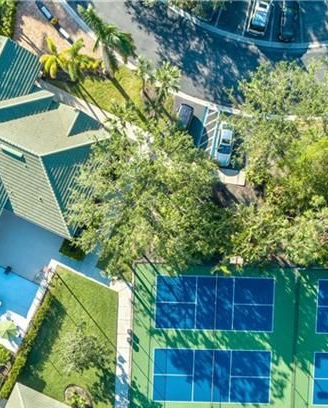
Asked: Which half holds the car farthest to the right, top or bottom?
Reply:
top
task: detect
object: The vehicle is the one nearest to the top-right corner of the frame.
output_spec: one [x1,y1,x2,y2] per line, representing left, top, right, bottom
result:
[277,0,299,44]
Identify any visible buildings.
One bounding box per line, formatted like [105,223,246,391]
[0,34,111,239]
[5,381,73,408]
